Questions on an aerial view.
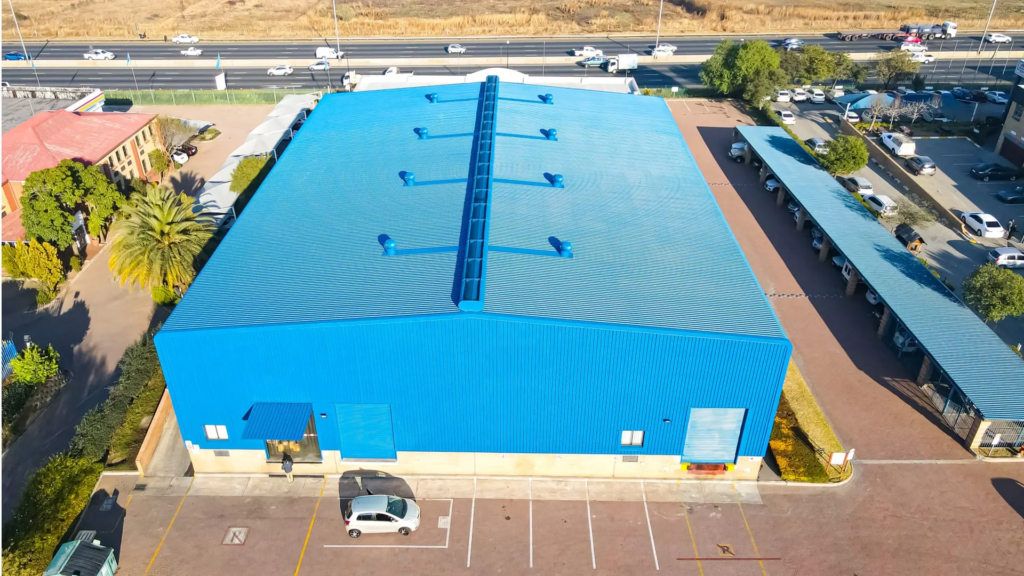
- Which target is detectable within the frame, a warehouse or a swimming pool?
warehouse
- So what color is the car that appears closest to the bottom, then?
white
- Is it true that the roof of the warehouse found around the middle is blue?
Yes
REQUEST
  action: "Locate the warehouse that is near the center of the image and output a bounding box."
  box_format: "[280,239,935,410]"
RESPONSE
[154,73,792,478]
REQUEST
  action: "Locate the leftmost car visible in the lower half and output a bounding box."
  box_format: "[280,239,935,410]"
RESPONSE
[340,490,420,534]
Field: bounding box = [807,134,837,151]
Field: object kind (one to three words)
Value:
car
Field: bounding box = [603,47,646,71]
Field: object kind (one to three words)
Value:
truck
